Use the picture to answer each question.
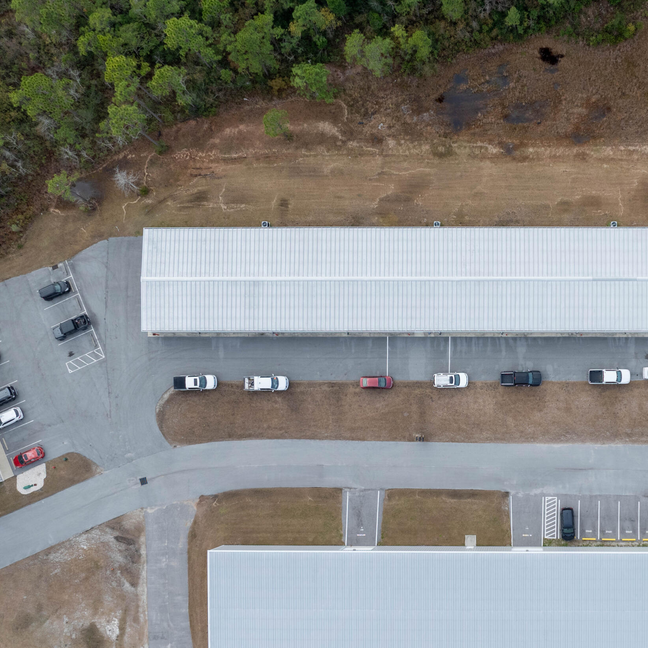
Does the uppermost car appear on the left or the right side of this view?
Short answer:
left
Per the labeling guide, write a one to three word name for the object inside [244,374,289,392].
vehicle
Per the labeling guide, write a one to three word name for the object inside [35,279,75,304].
car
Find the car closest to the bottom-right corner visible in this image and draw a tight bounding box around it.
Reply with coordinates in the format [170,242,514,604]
[560,507,576,542]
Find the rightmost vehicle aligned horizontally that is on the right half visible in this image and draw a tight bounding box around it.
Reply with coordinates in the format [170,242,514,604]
[588,367,629,385]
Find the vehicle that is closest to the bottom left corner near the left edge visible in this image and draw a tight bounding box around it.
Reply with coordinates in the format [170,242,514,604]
[14,446,49,469]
